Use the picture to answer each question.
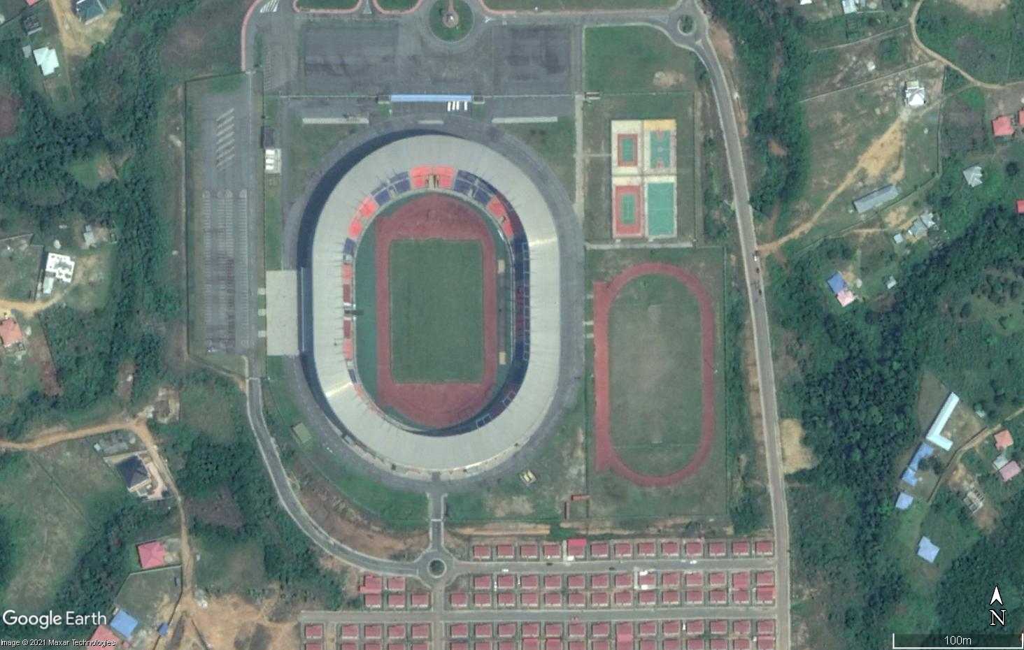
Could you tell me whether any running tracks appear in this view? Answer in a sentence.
Yes, the image includes a running track.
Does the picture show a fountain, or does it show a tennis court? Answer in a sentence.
Looking from above, you can make out a tennis court.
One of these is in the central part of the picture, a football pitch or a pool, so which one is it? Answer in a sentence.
You can see a football pitch in the central part of the picture.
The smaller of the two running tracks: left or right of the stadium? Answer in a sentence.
Looking at the photo, the smaller of the two running tracks lies to the right of the stadium.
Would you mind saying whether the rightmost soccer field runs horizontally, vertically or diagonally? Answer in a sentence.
The rightmost soccer field is laid out vertically.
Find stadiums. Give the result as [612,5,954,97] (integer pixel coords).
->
[301,134,561,482]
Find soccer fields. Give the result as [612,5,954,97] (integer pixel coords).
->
[389,239,484,384]
[610,275,703,476]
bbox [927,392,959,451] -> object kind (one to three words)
building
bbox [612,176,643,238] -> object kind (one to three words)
tennis court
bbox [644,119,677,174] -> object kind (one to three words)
basketball court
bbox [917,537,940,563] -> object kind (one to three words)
house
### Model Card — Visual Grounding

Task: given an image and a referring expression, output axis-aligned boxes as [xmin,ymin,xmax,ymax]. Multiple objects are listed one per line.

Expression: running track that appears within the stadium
[356,191,514,430]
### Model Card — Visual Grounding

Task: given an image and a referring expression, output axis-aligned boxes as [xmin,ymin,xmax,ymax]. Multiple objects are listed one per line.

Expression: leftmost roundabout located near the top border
[421,0,480,47]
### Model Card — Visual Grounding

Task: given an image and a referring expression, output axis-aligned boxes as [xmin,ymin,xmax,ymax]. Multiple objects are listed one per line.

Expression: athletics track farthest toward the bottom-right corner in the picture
[593,262,715,487]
